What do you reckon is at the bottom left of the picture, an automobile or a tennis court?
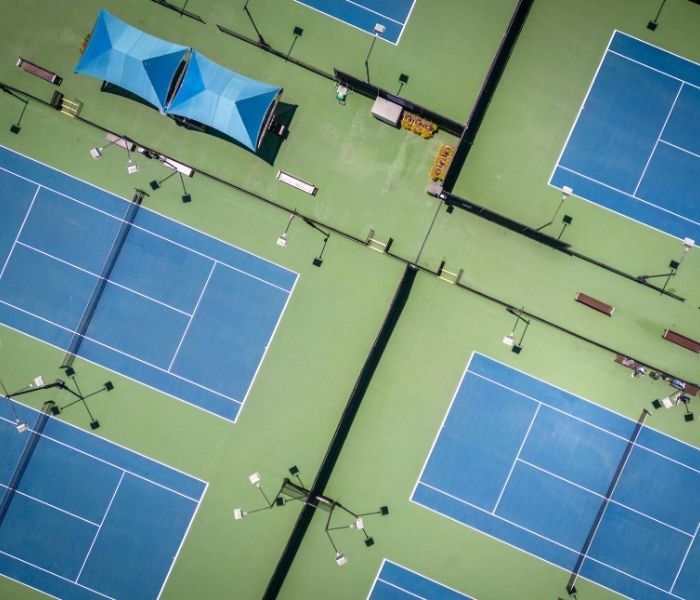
tennis court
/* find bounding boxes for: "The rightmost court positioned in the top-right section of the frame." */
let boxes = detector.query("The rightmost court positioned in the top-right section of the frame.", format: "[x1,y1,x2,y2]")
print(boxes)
[549,31,700,247]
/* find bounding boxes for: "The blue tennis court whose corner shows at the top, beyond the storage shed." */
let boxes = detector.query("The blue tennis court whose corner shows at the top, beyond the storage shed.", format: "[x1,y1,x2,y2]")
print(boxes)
[291,0,416,44]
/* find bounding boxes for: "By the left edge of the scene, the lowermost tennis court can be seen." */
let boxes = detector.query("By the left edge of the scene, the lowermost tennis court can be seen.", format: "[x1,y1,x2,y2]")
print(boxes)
[0,394,206,600]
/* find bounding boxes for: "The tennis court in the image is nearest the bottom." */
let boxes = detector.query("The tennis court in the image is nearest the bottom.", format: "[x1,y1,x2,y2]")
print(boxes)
[368,560,477,600]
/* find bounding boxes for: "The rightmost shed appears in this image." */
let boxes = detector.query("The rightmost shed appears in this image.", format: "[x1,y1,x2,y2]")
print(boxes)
[371,97,403,126]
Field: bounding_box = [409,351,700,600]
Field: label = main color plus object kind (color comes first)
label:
blue tennis court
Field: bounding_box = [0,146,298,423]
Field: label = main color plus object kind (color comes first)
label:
blue tennis court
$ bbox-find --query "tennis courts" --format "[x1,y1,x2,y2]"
[549,31,700,247]
[409,351,700,600]
[0,394,206,600]
[368,560,477,600]
[291,0,416,44]
[0,146,298,423]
